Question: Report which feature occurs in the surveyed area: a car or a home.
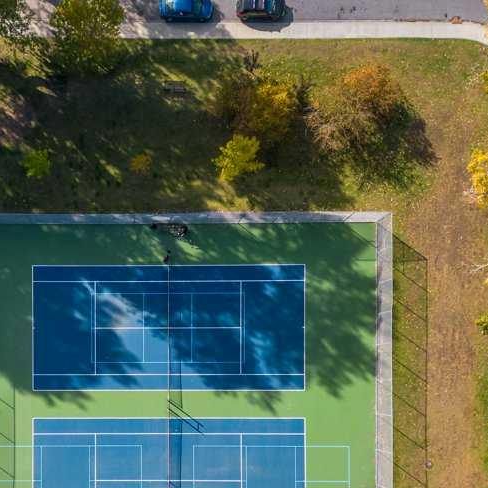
car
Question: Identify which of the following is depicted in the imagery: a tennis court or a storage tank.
tennis court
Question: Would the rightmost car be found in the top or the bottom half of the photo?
top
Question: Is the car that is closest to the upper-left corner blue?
Yes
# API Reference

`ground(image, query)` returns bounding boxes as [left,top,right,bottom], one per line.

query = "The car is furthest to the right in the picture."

[235,0,287,22]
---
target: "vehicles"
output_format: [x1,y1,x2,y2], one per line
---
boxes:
[159,0,212,23]
[235,0,287,22]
